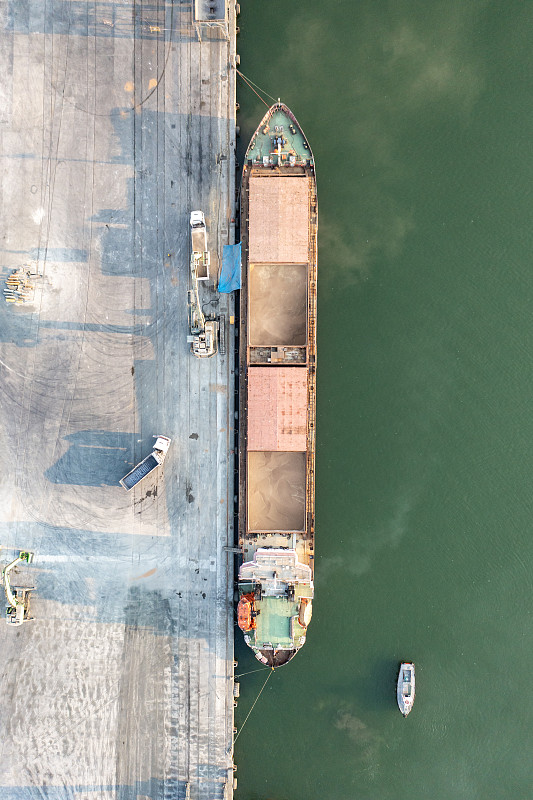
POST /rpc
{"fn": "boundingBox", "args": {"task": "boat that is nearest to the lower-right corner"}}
[398,661,417,720]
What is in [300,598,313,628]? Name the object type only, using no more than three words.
boat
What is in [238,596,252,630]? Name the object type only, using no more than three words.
boat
